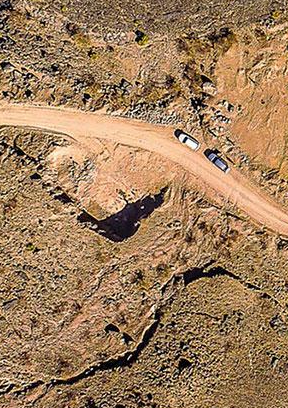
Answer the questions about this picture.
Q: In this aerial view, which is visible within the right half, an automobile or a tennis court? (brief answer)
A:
automobile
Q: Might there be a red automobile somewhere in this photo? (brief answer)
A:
No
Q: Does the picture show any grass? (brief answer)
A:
Yes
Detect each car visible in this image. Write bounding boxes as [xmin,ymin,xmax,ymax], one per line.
[175,133,199,151]
[206,154,229,174]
